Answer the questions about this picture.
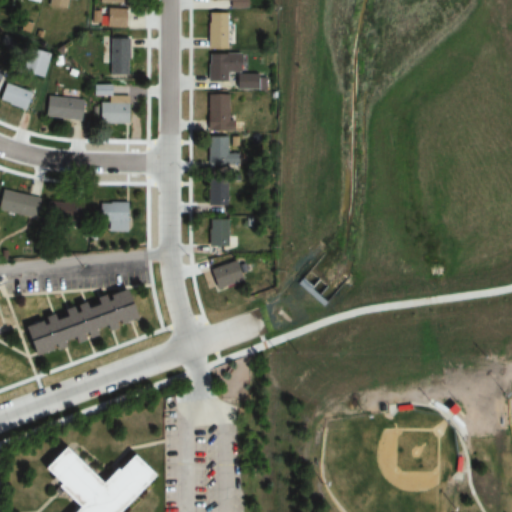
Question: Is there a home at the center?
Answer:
Yes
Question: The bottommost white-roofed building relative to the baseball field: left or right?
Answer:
left of it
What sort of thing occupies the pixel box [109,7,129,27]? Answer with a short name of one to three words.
house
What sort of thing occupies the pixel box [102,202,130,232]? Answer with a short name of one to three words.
house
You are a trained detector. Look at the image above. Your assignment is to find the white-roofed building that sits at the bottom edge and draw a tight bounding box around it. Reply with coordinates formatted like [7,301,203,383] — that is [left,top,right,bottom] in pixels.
[48,446,158,512]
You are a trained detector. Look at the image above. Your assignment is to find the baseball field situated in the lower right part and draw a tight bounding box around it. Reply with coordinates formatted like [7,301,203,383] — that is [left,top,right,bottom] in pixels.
[320,411,457,512]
